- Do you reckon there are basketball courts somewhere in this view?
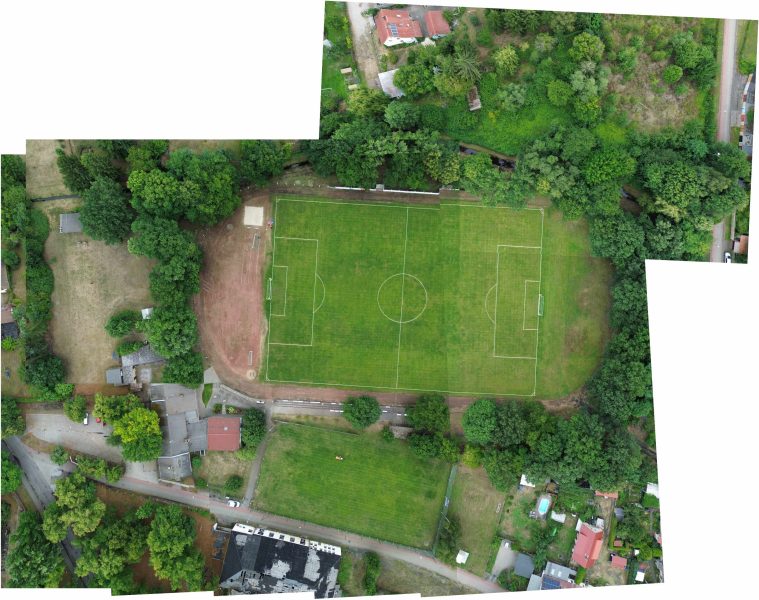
No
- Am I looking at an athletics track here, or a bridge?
athletics track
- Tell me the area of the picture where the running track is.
center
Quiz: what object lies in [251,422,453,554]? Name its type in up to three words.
sports field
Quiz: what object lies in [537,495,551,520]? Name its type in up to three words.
swimming pool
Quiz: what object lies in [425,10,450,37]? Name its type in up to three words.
building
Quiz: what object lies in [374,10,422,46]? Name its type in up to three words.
house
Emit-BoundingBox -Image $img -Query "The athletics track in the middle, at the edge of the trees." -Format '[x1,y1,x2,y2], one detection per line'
[196,188,614,407]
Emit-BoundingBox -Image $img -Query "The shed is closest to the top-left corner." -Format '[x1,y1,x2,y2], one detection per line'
[60,213,85,233]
